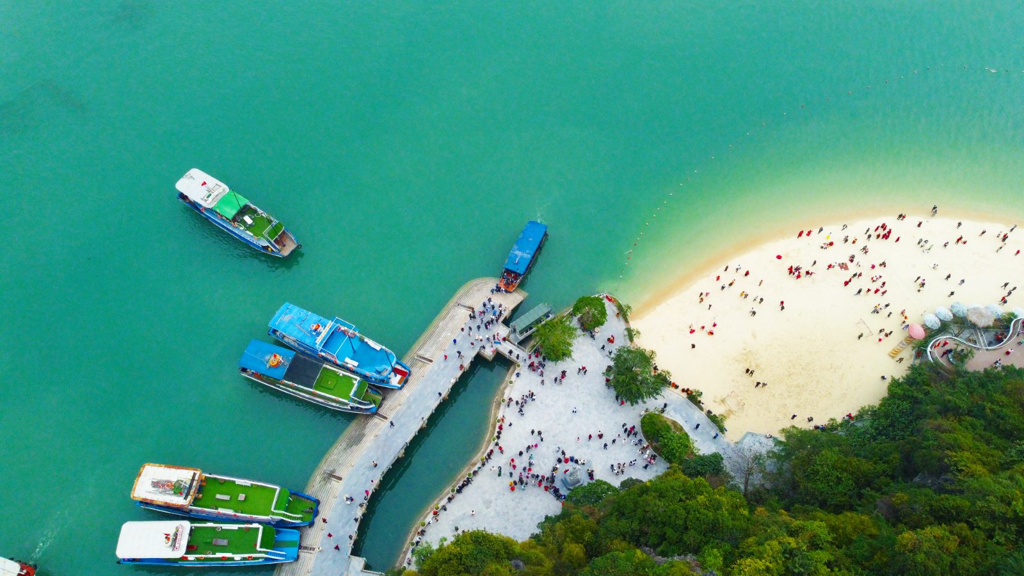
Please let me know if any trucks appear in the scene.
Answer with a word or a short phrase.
No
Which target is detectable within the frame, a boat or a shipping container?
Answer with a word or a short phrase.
boat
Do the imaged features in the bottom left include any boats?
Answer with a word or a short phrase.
Yes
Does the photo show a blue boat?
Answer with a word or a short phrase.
Yes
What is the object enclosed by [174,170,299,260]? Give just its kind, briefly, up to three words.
boat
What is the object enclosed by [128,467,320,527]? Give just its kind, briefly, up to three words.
boat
